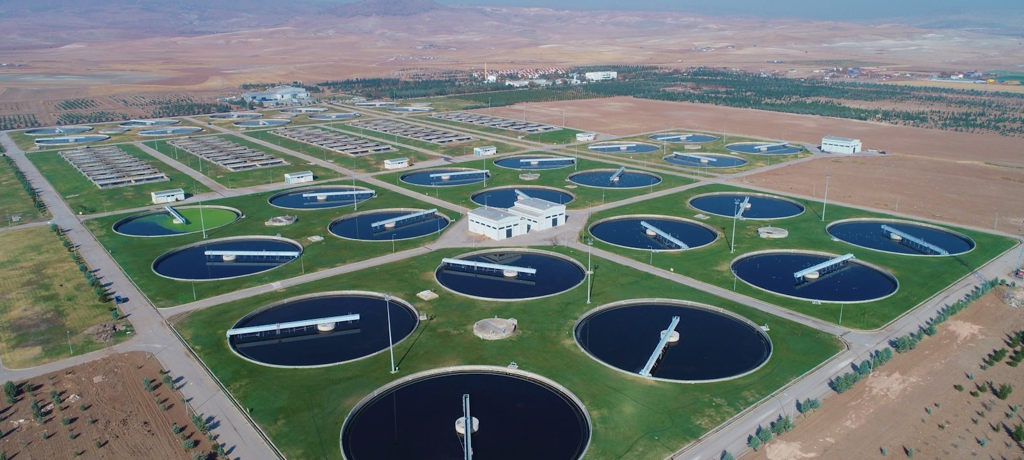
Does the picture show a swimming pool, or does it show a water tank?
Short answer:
water tank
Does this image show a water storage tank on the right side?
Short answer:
Yes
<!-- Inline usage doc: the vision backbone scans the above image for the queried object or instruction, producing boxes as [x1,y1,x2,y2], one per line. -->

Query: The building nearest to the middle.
[470,197,567,240]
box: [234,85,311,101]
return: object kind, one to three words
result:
building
